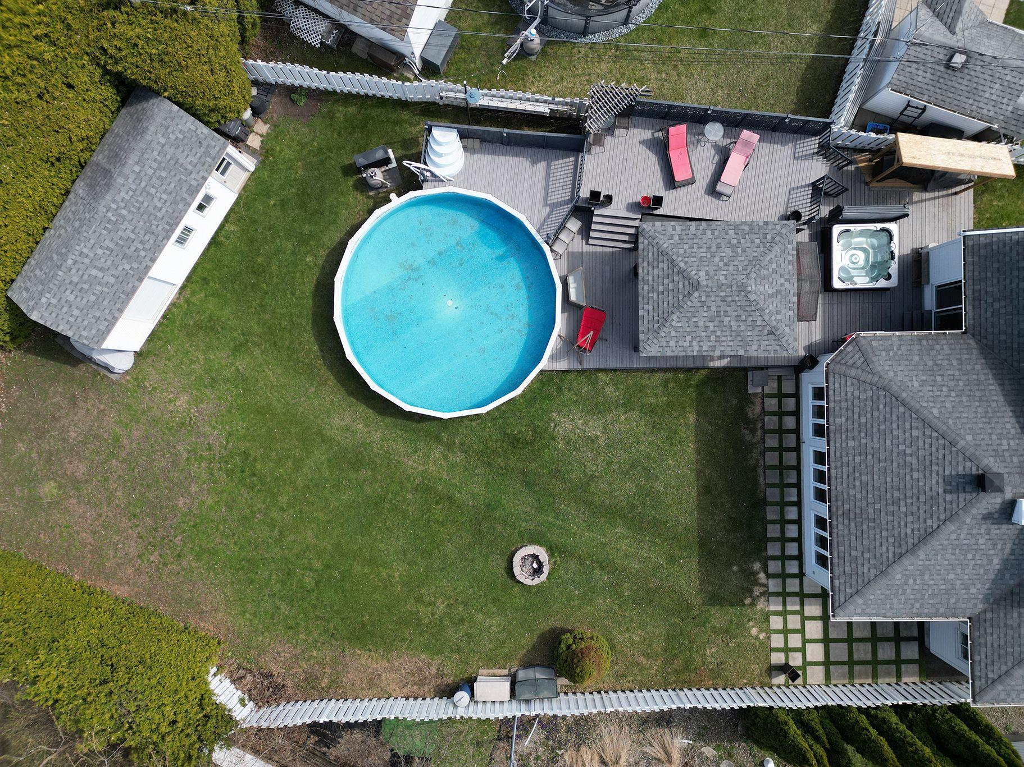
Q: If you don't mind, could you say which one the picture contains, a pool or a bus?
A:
pool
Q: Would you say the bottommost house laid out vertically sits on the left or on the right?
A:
right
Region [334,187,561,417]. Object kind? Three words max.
swimming pool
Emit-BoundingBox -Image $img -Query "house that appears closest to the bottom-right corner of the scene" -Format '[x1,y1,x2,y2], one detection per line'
[801,218,1024,706]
